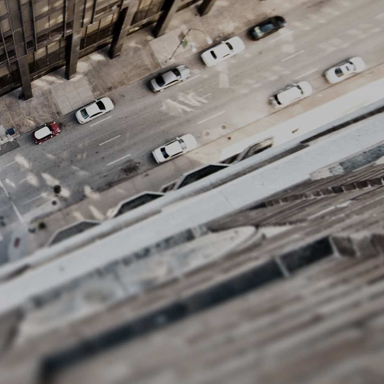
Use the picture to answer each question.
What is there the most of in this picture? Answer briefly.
buildings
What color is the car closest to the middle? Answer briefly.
white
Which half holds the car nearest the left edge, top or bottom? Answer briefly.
top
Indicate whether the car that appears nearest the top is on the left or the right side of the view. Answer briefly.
right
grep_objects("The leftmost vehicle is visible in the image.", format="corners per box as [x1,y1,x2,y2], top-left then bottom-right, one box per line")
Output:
[31,122,63,144]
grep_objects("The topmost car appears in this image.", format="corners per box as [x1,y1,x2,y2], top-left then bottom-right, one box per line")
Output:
[246,16,289,43]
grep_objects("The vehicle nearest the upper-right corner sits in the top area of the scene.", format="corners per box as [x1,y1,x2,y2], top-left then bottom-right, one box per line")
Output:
[323,56,368,84]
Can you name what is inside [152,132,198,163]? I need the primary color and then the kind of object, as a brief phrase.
white car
